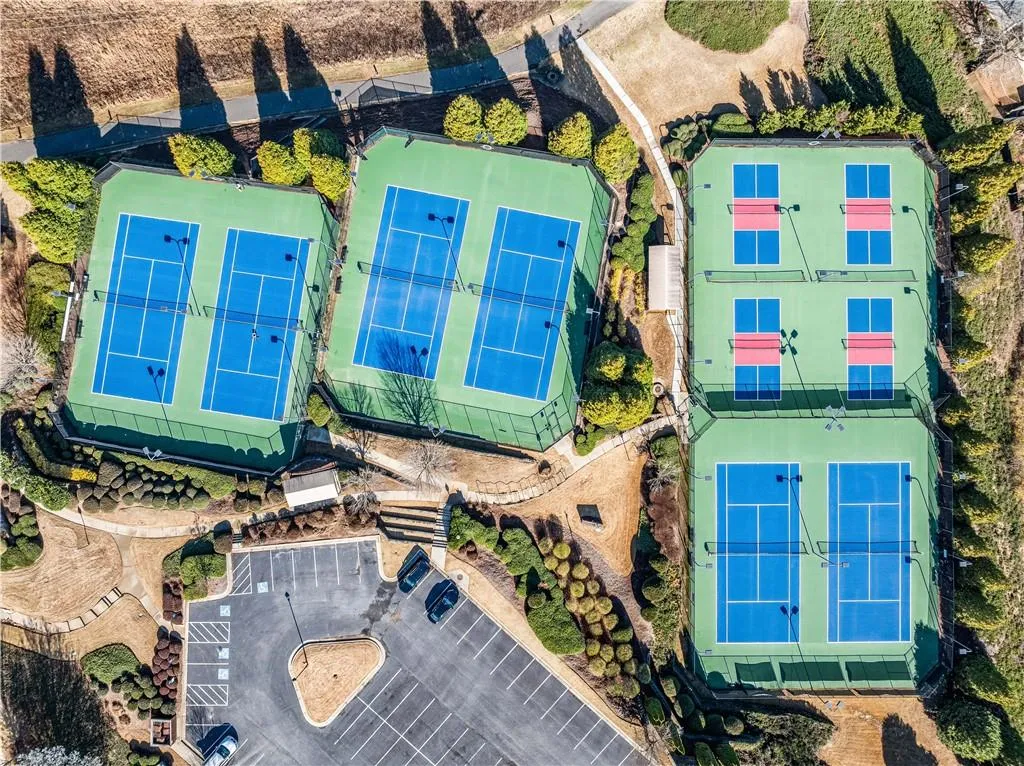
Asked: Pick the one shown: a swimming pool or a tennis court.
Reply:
tennis court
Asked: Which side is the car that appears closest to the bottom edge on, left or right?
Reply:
left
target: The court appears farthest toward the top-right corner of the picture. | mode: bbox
[813,147,936,281]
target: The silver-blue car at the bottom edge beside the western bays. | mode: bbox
[202,734,239,766]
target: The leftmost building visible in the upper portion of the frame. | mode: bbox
[645,246,682,311]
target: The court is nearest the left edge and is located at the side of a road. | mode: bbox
[65,170,221,456]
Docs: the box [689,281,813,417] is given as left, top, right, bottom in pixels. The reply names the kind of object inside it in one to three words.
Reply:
sports court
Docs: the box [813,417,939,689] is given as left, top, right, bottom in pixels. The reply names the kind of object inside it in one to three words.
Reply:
tennis court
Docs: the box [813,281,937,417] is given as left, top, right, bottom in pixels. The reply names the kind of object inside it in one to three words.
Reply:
sports court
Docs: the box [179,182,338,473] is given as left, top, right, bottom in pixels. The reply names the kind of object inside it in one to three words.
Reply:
tennis court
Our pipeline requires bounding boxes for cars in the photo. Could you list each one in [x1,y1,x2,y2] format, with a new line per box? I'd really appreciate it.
[397,555,433,593]
[426,585,461,623]
[202,734,239,766]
